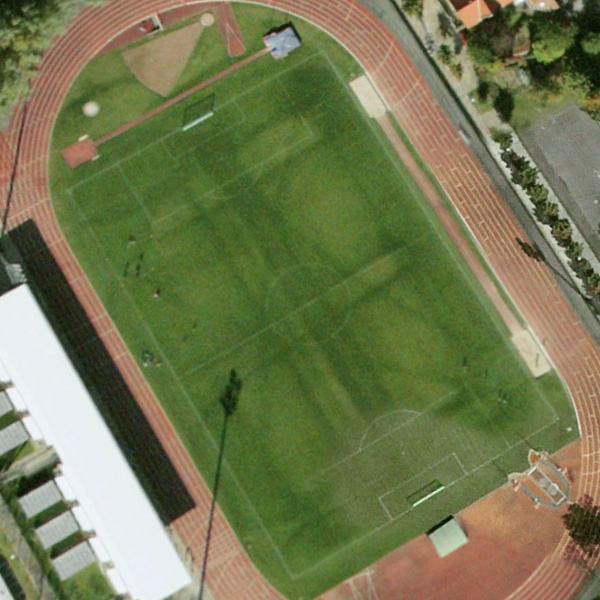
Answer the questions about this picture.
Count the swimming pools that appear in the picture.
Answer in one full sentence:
No swimming pools are visible.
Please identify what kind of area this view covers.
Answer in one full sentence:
The area seen from above is a sports ground.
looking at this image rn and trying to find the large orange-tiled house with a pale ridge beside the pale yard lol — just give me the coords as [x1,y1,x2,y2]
[448,0,493,28]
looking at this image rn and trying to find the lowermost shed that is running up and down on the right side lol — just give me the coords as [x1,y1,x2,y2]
[513,25,530,57]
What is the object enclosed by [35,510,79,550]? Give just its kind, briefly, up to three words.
shed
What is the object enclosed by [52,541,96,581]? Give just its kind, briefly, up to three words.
shed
